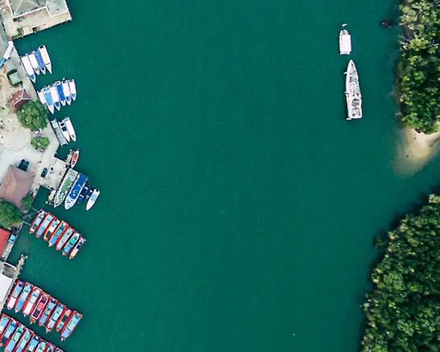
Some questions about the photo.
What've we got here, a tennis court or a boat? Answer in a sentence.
It is a boat that can be seen here.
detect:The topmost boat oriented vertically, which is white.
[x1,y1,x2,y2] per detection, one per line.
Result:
[338,27,351,55]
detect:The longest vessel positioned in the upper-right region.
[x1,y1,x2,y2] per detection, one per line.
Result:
[345,59,364,120]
